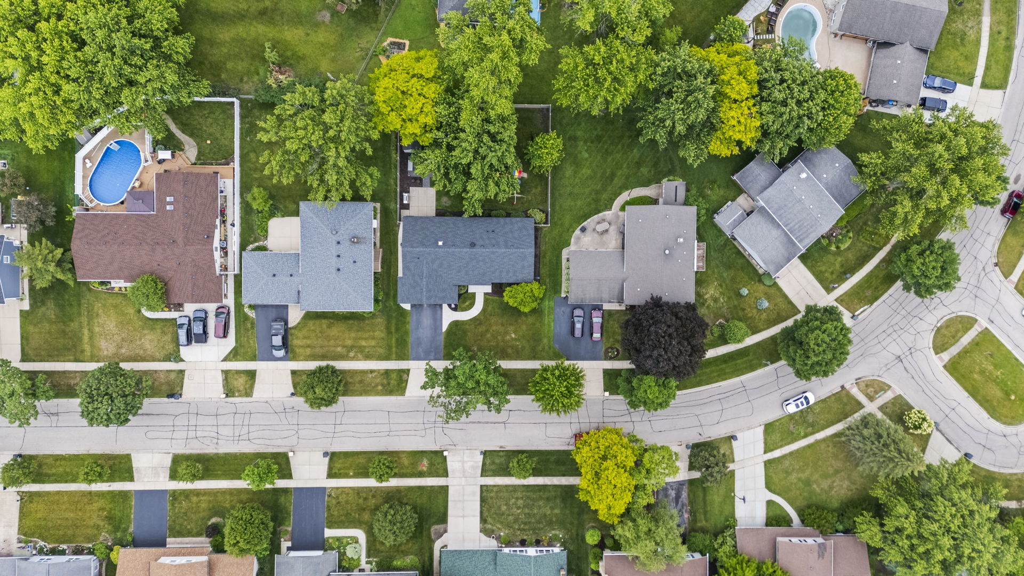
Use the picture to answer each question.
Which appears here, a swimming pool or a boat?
swimming pool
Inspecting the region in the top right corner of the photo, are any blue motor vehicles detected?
Yes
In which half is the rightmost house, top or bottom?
top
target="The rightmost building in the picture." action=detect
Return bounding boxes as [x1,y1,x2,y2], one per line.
[824,0,950,108]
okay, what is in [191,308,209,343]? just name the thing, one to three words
vehicle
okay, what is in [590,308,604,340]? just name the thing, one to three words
car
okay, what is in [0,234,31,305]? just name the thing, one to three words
house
